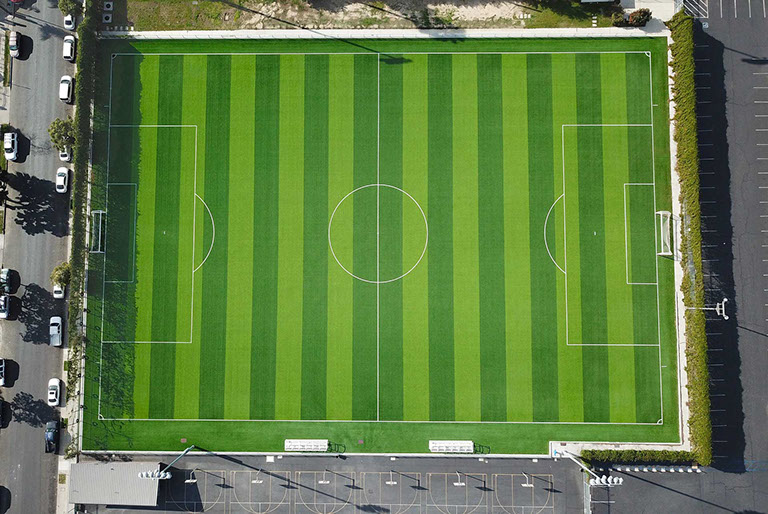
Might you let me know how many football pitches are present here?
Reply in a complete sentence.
In total, there is 1 football pitch in the scene.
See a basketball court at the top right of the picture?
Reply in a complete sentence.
No, there is no basketball court at the top right of the picture.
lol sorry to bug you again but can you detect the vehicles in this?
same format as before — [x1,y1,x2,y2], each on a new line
[49,377,62,405]
[63,38,76,63]
[0,357,9,385]
[64,14,78,39]
[60,77,74,104]
[50,315,65,347]
[0,399,7,428]
[0,295,12,321]
[10,33,25,61]
[0,267,14,294]
[53,276,67,300]
[46,419,61,452]
[59,143,72,166]
[57,168,71,194]
[4,132,20,161]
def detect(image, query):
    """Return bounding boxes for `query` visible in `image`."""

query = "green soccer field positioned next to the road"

[80,36,680,456]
